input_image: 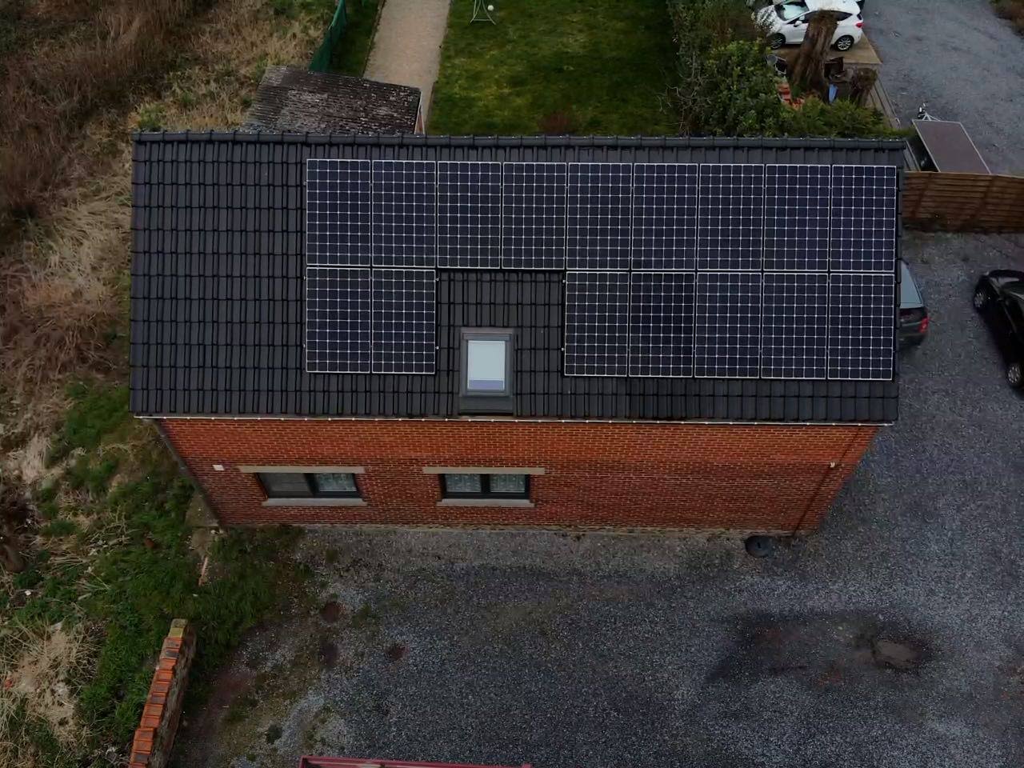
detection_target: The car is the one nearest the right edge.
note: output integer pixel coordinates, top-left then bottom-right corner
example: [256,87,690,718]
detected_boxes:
[975,274,1024,390]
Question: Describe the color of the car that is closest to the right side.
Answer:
black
